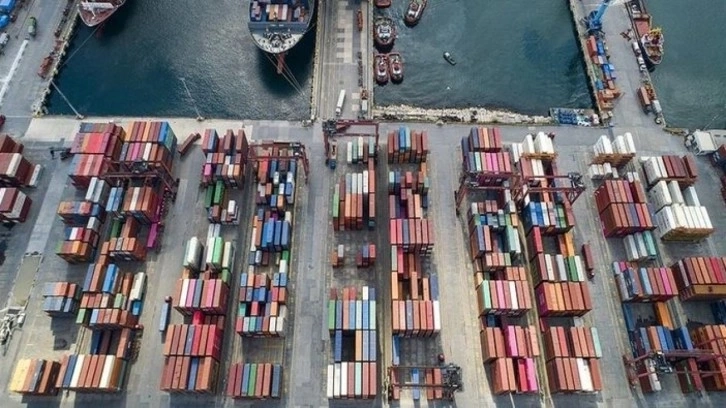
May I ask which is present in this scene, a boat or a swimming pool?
boat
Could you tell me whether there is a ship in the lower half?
No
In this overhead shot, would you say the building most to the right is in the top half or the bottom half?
top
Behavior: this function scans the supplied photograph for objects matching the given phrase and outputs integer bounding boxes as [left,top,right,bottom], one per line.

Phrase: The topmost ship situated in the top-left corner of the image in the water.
[77,0,139,31]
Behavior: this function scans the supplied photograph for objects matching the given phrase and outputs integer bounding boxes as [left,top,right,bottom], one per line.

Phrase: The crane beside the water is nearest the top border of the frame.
[578,0,612,37]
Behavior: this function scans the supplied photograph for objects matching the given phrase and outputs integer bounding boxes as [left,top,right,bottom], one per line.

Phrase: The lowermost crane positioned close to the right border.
[622,348,726,387]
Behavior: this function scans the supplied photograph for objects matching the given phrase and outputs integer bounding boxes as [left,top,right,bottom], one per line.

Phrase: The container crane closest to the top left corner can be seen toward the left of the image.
[94,158,180,201]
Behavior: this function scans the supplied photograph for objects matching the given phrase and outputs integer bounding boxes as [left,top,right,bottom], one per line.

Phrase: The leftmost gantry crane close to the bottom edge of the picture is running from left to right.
[386,362,470,400]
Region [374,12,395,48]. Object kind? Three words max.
boat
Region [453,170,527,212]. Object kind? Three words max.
container crane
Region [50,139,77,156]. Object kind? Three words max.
work vehicle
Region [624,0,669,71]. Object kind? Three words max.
ship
